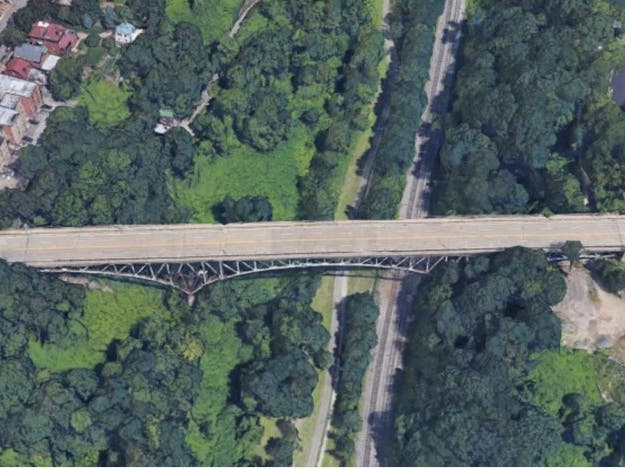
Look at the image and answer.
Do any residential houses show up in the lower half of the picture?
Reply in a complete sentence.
No, I see no residential house in the lower half of the picture.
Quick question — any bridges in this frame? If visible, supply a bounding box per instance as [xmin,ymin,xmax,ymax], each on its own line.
[23,212,625,306]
